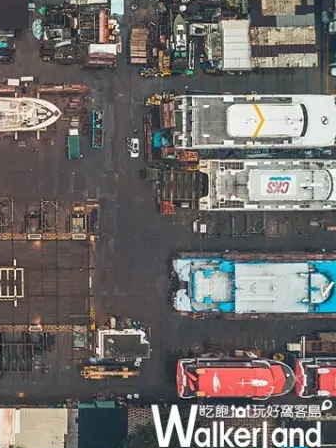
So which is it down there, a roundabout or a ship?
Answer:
ship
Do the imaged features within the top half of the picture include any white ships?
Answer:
Yes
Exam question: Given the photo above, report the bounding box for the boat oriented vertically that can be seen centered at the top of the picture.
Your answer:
[173,14,186,51]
